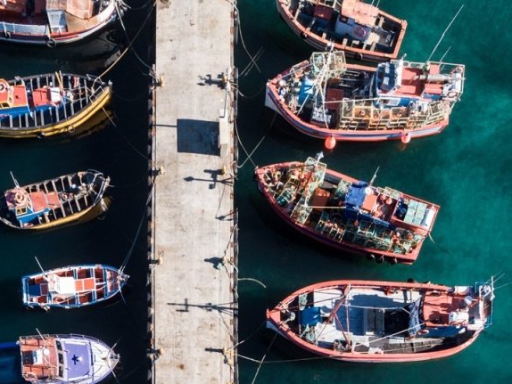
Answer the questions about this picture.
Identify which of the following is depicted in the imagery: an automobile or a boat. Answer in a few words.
boat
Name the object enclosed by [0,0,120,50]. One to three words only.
boat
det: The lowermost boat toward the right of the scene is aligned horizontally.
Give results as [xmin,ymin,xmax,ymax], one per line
[266,271,511,364]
